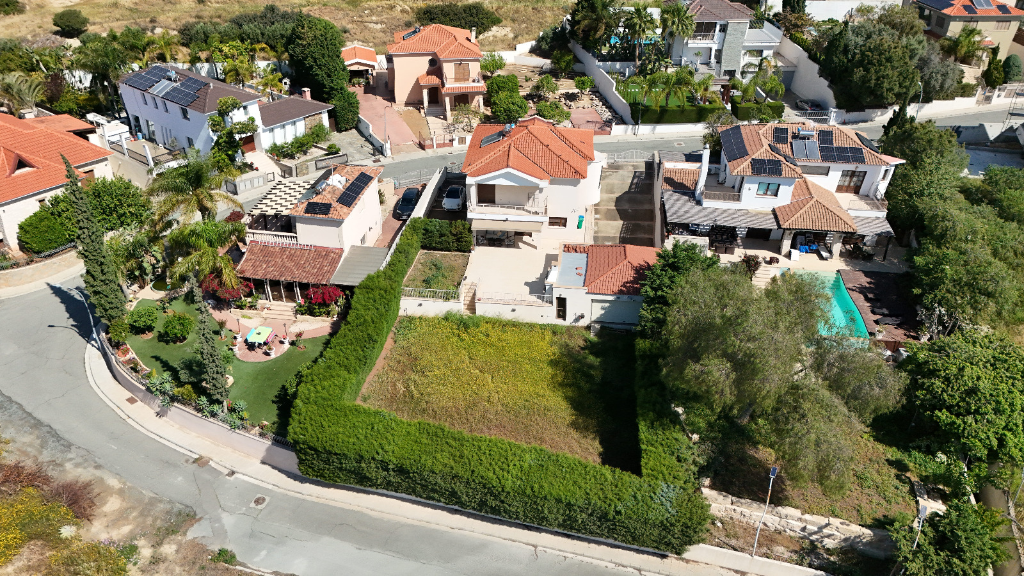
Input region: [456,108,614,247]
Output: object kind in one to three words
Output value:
house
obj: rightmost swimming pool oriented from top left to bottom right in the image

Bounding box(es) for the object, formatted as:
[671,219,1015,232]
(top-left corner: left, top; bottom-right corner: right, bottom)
[775,265,871,361]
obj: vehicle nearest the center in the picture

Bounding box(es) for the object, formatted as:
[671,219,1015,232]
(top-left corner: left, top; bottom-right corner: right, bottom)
[427,182,463,219]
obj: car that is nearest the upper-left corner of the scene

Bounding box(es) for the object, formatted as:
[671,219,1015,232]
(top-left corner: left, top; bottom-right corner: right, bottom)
[392,182,422,216]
